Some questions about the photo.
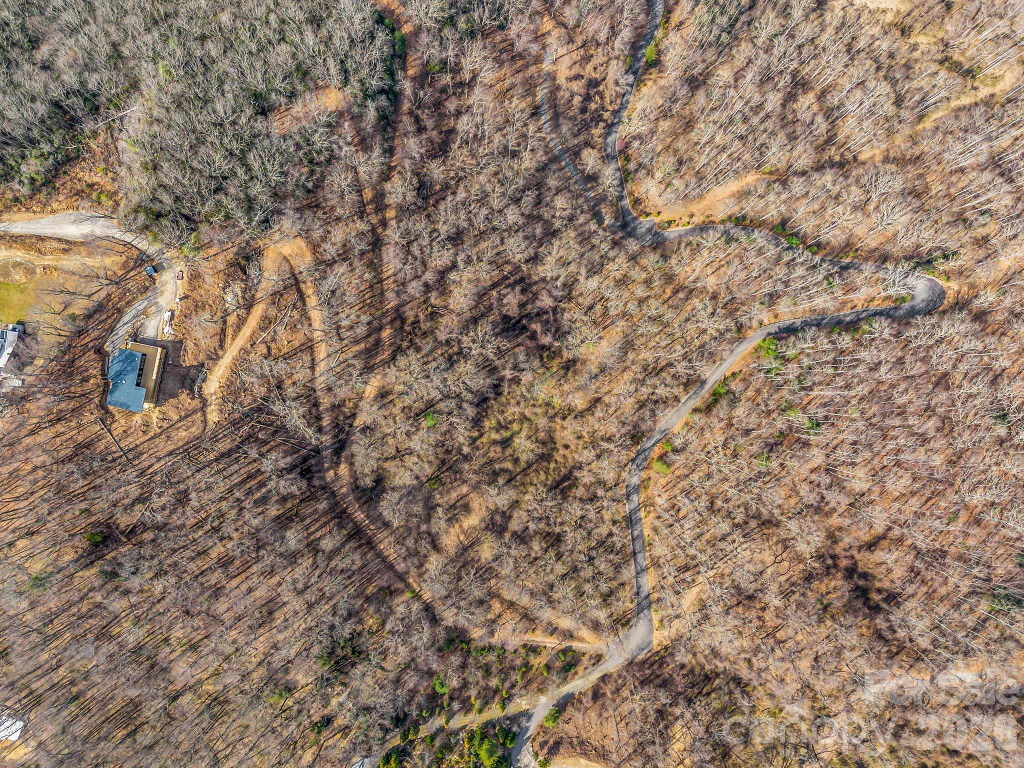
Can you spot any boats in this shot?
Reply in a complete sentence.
No, I can't see a single boat in this photo.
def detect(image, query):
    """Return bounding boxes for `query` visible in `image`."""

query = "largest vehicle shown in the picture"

[142,261,163,275]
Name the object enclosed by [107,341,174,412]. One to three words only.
house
